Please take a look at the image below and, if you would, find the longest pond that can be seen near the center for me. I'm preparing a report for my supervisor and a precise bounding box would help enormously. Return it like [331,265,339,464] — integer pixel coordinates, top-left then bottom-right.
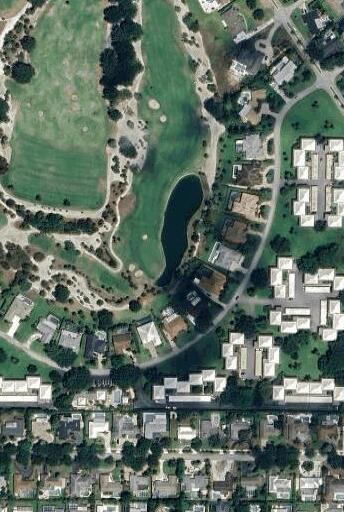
[160,174,203,286]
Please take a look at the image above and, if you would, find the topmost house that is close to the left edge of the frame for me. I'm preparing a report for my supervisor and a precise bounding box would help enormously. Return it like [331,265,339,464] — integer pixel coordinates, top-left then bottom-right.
[3,292,37,328]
